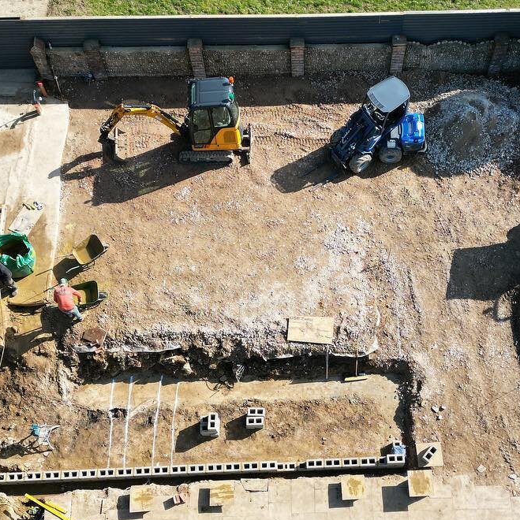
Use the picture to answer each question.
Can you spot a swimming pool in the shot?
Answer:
No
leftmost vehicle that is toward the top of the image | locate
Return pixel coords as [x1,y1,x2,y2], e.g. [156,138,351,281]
[105,73,259,164]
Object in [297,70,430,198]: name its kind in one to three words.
work vehicle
